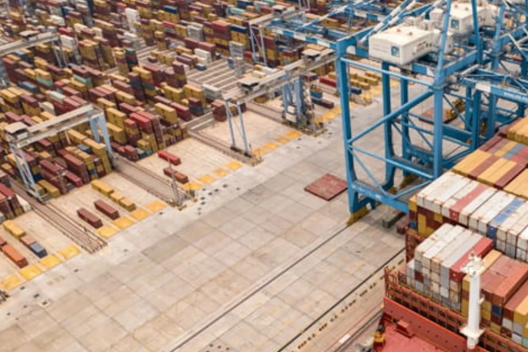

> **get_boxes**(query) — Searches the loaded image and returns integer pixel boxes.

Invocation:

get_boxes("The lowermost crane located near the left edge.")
[4,105,128,206]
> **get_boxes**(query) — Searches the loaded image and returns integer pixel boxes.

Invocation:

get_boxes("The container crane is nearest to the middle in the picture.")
[221,71,310,160]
